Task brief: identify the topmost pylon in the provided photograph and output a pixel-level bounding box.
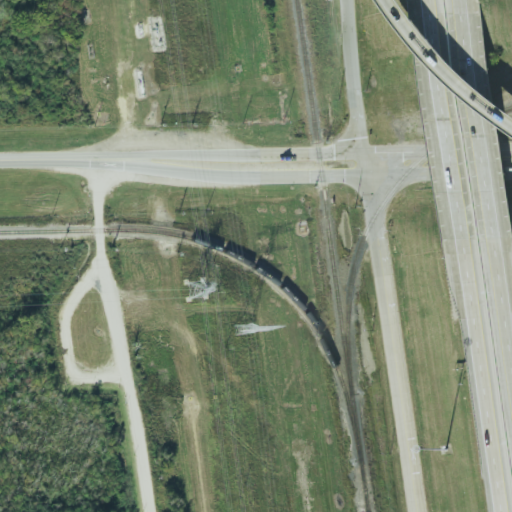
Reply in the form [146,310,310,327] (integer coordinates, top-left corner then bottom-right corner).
[184,278,218,302]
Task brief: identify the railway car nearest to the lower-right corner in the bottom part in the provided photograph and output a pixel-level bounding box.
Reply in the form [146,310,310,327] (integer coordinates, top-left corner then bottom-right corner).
[320,338,339,368]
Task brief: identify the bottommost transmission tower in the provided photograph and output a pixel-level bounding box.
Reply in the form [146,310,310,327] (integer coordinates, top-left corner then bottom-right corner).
[232,320,274,338]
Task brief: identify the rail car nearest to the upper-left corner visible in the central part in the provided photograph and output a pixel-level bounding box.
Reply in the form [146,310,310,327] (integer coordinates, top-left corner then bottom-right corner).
[196,236,227,253]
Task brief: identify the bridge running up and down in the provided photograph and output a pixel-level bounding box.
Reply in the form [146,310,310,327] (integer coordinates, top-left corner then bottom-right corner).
[406,2,512,318]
